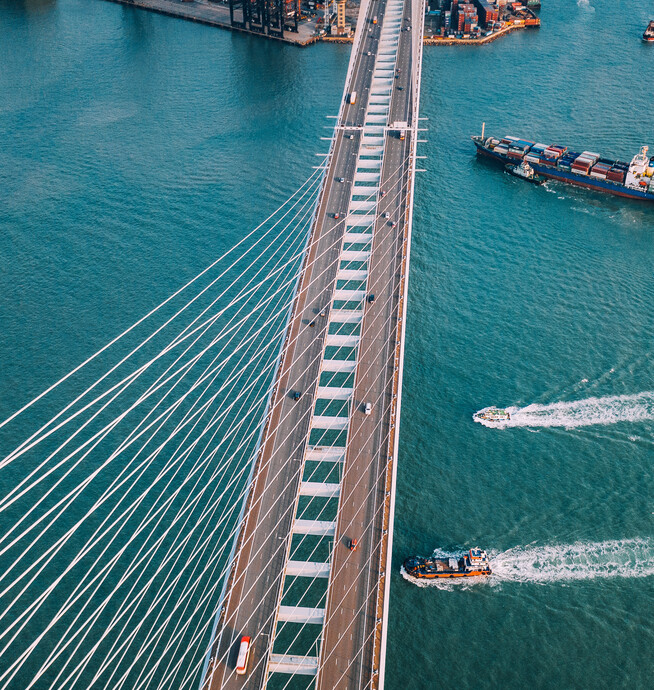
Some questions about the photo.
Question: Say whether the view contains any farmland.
No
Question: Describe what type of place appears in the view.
port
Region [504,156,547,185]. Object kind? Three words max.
boat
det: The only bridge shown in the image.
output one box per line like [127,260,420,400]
[0,0,430,690]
